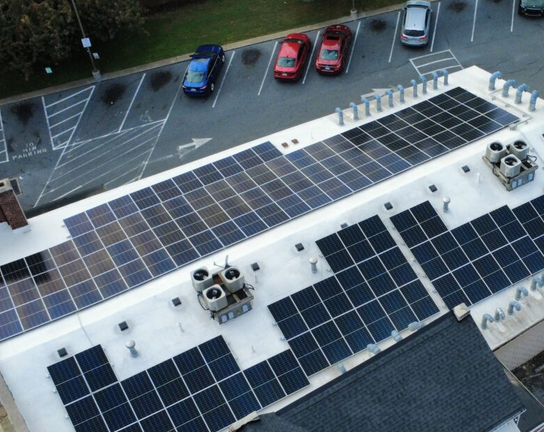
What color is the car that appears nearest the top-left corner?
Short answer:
blue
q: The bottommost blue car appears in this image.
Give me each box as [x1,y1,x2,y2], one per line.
[178,45,227,98]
